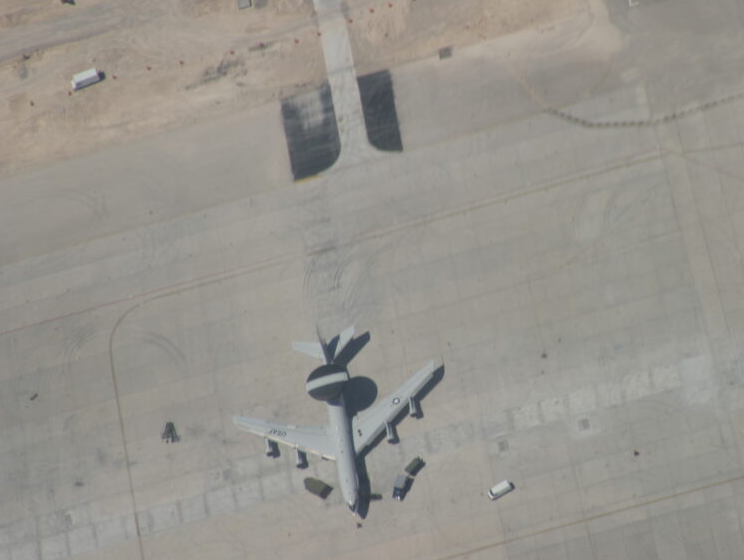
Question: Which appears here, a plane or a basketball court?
plane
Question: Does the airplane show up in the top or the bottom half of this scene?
bottom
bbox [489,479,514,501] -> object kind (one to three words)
vehicle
